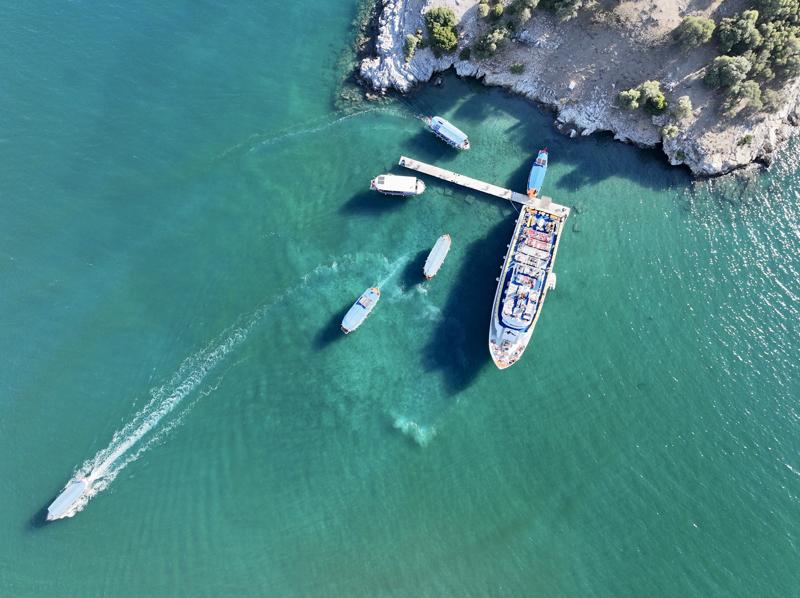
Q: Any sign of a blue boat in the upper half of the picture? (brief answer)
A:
Yes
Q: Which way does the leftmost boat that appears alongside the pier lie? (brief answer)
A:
from left to right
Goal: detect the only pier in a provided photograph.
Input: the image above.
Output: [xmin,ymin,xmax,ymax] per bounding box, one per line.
[398,156,573,220]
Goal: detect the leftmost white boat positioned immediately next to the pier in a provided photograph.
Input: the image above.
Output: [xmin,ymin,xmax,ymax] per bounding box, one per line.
[368,175,427,196]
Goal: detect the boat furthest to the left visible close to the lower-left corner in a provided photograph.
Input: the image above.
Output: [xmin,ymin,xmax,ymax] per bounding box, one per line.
[44,475,95,523]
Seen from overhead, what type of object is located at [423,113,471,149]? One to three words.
boat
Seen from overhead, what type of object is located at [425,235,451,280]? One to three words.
boat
